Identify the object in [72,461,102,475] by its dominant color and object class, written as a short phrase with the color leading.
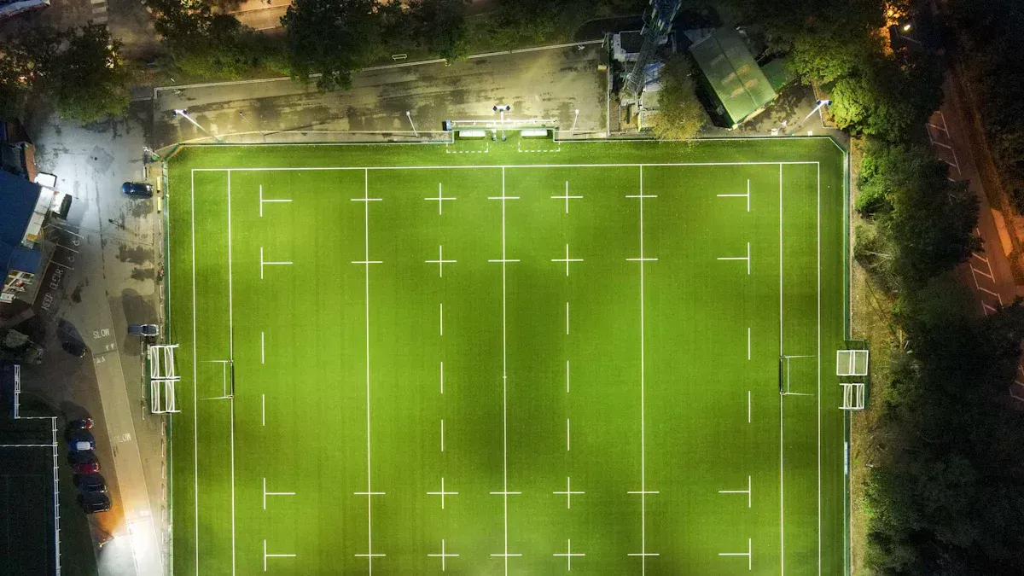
red car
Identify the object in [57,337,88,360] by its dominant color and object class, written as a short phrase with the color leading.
black car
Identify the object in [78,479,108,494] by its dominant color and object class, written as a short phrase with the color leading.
black car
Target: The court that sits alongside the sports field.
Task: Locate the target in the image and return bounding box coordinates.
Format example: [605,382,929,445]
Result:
[0,363,56,576]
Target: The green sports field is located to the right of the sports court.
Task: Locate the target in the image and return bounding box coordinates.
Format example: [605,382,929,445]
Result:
[147,130,863,576]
